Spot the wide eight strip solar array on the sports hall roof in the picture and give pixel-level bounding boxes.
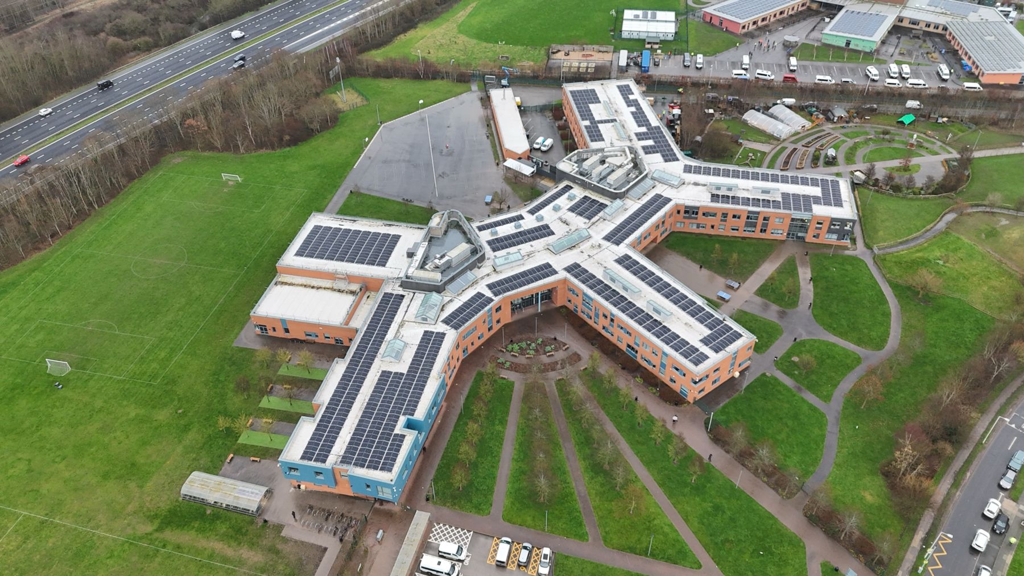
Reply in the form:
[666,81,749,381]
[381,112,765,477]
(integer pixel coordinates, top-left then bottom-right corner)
[294,225,402,268]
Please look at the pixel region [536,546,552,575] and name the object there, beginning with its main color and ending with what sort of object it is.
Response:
white car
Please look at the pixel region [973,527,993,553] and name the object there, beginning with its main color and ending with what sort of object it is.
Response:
white car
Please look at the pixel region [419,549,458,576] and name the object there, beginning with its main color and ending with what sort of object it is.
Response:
white vehicle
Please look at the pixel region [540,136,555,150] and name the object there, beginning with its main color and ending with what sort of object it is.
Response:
white vehicle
